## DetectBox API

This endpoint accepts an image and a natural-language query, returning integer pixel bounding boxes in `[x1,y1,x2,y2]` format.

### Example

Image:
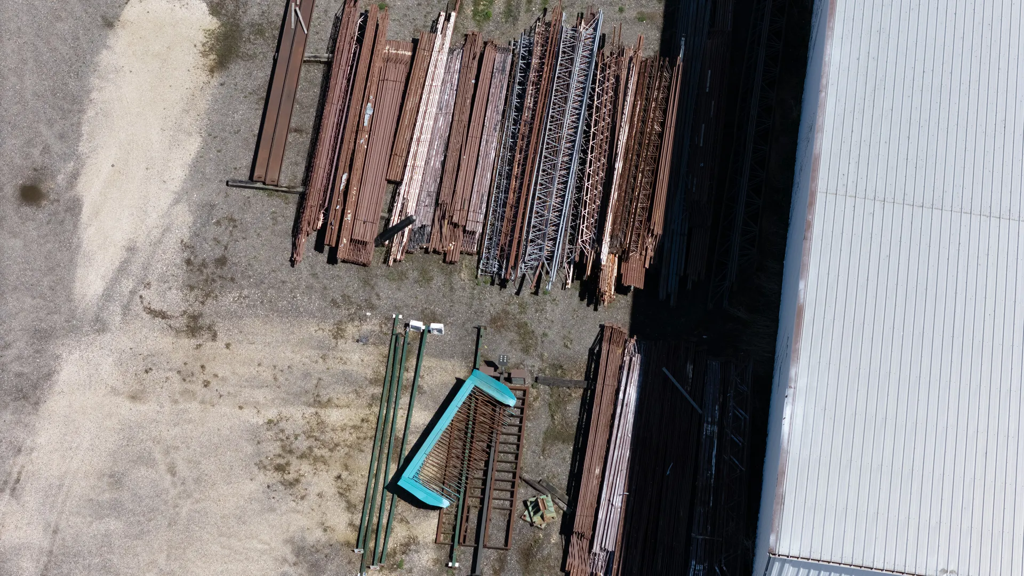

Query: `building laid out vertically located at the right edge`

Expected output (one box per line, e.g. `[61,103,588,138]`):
[752,0,1024,576]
